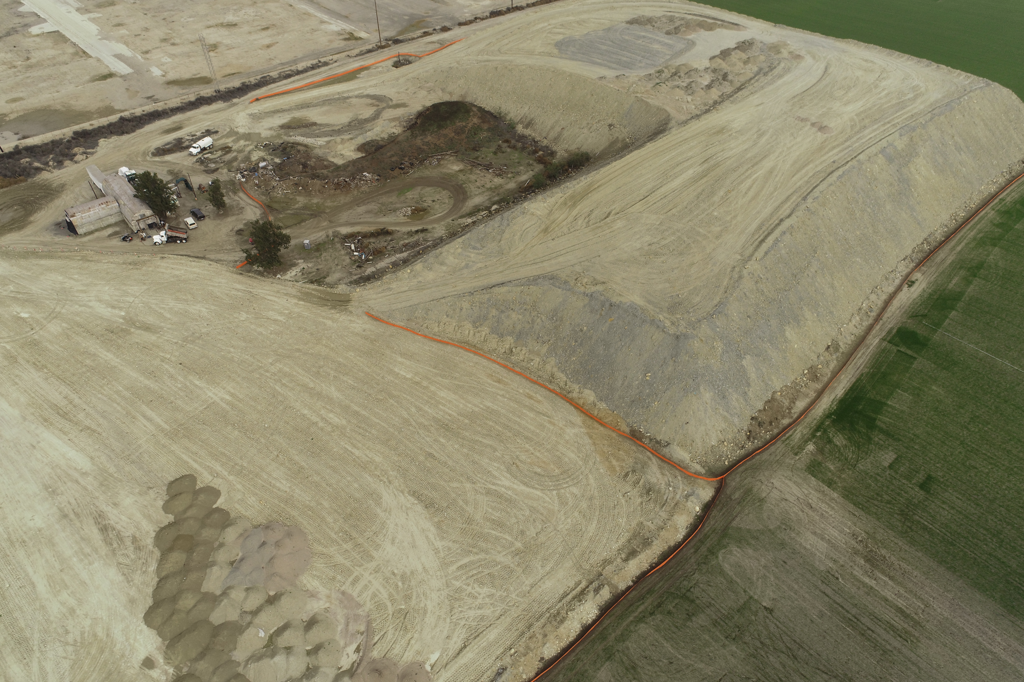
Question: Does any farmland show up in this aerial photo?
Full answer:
Yes, farmland can be seen from above here.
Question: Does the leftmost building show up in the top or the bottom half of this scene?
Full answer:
It is in the top half that the leftmost building appears.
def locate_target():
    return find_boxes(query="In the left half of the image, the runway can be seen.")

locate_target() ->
[18,0,172,77]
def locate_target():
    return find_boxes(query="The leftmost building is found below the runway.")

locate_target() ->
[65,197,121,235]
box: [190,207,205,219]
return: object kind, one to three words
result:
vehicle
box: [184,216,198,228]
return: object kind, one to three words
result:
vehicle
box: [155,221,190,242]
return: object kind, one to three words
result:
truck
